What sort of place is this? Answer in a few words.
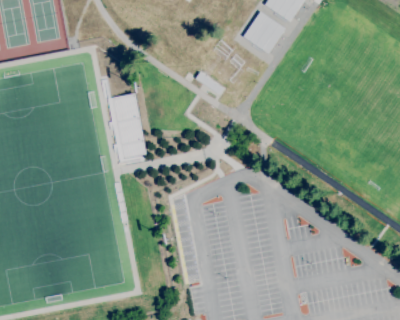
sports ground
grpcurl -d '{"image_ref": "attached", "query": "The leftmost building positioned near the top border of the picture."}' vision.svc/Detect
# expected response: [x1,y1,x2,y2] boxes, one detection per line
[244,12,284,53]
